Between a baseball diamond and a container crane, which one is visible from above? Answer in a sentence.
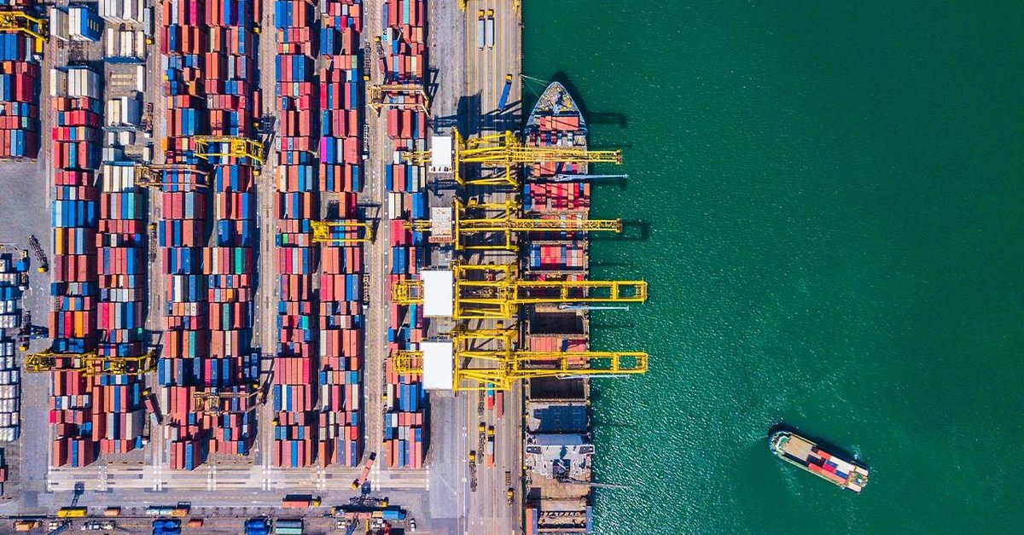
The image shows a container crane.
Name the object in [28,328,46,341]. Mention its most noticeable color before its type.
blue vehicle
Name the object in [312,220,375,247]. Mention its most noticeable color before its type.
yellow container crane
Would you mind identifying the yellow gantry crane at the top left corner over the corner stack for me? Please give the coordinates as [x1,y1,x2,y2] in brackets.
[0,10,55,50]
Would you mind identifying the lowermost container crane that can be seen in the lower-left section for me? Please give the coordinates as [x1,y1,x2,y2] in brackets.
[194,382,264,415]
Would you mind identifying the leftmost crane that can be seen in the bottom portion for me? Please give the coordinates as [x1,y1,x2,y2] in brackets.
[27,348,98,374]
